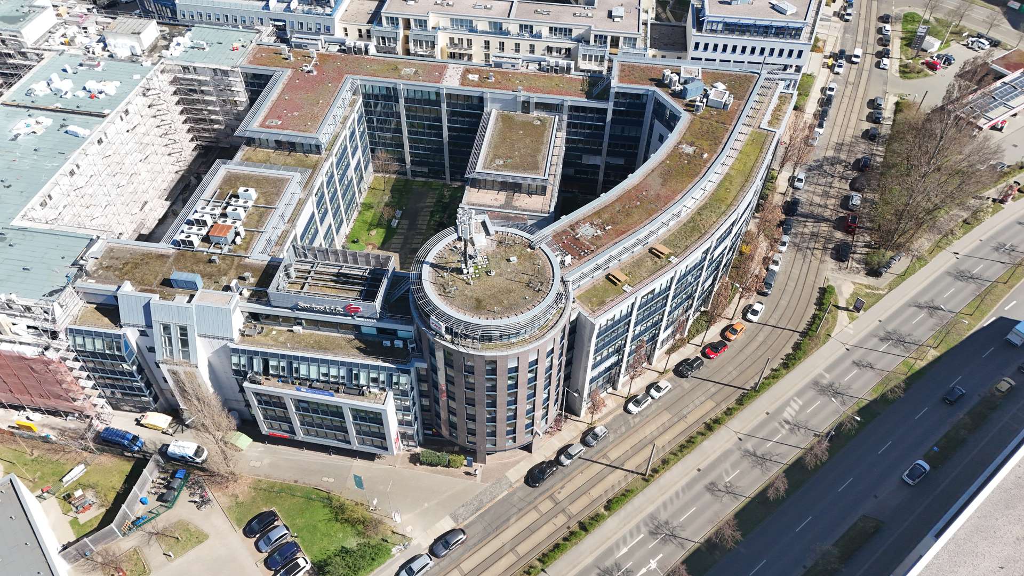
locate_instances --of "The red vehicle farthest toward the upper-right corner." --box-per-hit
[922,58,943,71]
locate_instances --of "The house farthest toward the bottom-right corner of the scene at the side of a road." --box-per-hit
[903,443,1024,576]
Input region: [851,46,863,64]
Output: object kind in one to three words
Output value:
vehicle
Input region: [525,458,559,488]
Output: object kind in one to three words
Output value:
car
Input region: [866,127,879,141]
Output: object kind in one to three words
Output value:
vehicle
